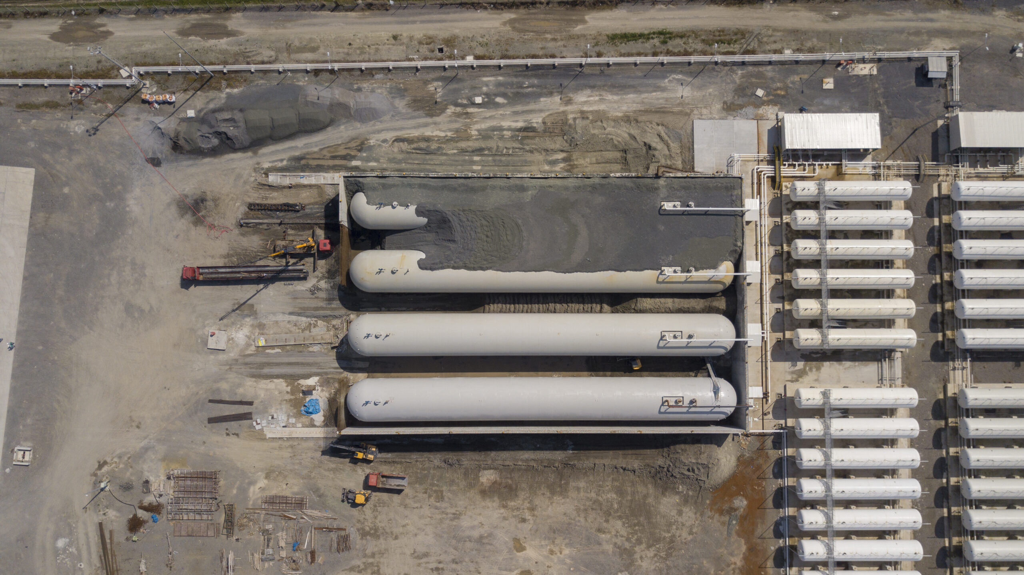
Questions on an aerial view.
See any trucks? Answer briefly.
Yes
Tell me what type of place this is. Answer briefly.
industrial area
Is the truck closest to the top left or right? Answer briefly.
left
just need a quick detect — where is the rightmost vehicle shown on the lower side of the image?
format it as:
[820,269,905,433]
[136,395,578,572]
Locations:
[616,357,645,371]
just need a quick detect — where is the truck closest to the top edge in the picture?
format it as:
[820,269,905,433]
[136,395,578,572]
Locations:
[236,227,333,271]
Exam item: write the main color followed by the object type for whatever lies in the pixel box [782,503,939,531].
white storage tank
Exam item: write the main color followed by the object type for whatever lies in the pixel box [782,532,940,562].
white storage tank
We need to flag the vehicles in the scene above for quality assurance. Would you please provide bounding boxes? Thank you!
[339,489,374,504]
[180,265,305,282]
[325,440,383,462]
[236,227,333,271]
[367,471,409,491]
[616,357,645,371]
